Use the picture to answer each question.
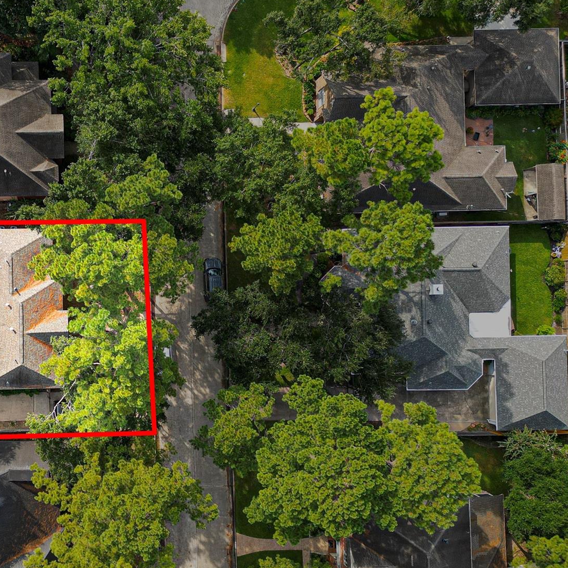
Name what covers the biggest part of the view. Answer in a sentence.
The bulk of the photo consists of trees.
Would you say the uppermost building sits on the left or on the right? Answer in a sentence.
The uppermost building appears in the right half of the scene.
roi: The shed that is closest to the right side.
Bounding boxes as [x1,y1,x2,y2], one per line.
[524,162,568,222]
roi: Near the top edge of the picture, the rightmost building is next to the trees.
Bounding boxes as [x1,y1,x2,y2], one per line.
[463,27,561,107]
